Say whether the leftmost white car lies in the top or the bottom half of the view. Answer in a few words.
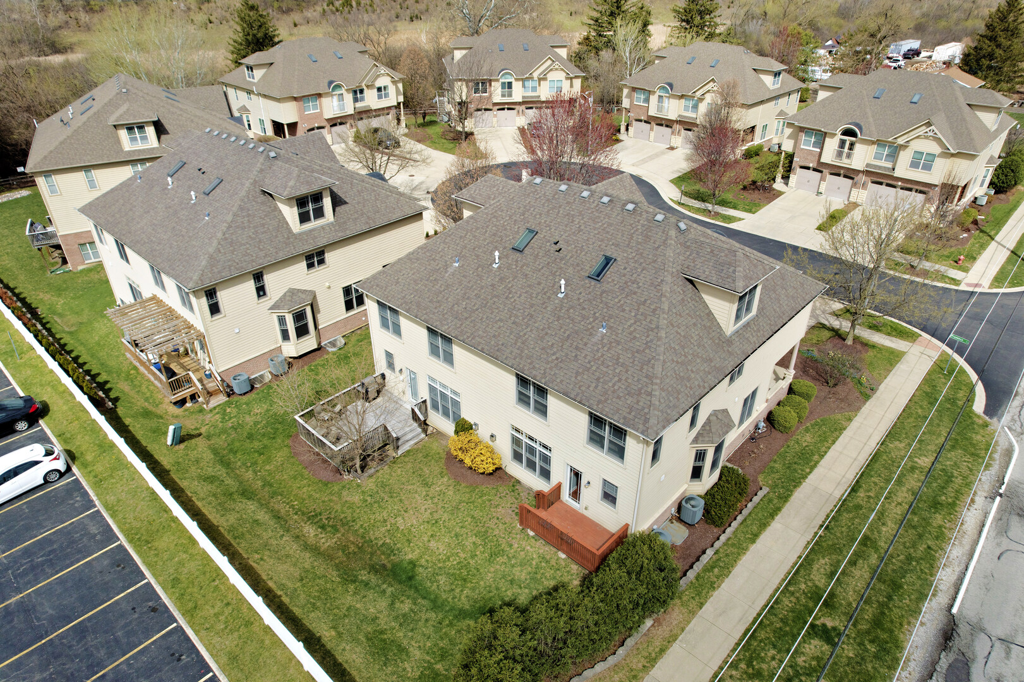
bottom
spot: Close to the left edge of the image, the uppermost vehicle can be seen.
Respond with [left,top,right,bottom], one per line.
[0,397,33,433]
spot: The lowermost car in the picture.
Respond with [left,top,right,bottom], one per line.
[0,444,62,498]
